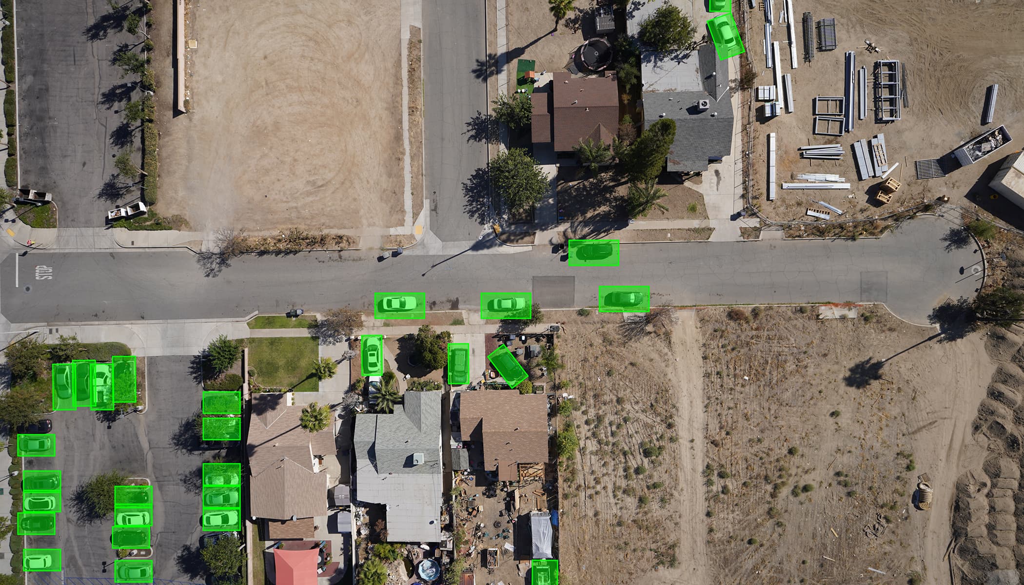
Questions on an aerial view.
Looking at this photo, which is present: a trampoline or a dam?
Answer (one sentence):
Looking from above, you can make out a trampoline.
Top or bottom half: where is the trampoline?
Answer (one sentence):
The trampoline is in the top half of the image.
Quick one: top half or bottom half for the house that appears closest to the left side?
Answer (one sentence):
The house that appears closest to the left side sits in the bottom half of the picture.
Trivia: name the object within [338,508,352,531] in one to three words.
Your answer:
shed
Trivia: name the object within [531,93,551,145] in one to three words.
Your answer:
house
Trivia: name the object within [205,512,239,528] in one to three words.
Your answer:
car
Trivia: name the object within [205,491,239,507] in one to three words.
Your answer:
car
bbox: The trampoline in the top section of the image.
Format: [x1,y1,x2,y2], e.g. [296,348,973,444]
[580,35,614,71]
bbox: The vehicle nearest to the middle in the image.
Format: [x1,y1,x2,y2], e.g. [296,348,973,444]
[493,296,526,310]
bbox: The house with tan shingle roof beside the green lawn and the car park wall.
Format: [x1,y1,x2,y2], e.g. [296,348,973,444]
[247,391,340,523]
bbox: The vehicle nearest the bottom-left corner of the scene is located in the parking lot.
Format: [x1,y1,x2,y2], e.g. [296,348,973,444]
[24,554,55,570]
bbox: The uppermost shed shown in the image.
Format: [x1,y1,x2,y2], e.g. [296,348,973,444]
[594,5,615,36]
